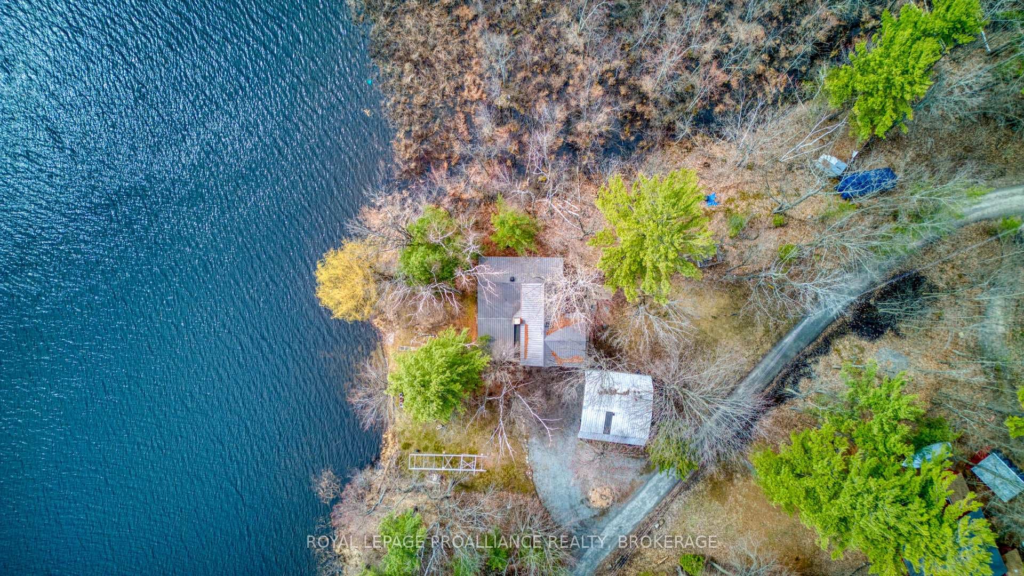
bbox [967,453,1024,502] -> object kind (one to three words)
shed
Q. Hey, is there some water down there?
Yes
